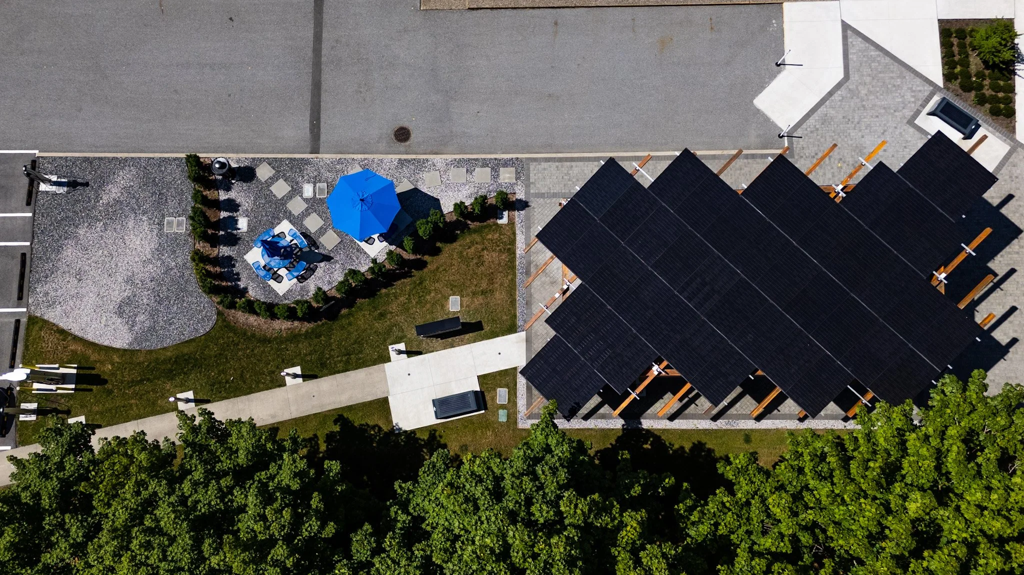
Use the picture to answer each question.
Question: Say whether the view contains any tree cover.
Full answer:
Yes, there's tree cover in this view.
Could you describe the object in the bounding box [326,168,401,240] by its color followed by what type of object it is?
blue umbrella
